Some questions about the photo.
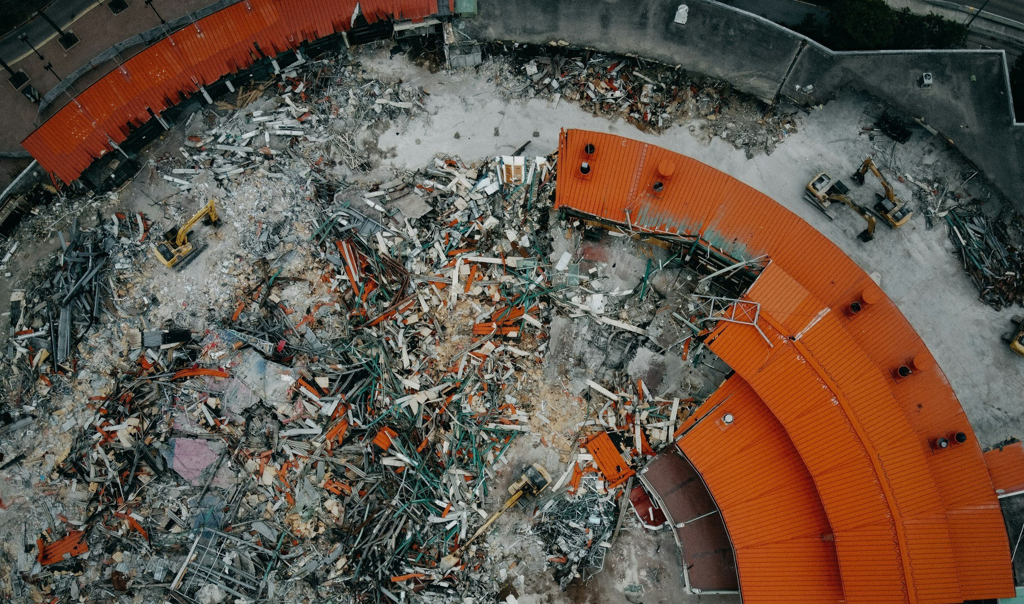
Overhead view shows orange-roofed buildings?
Yes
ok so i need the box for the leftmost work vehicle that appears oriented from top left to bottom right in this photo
[792,171,876,243]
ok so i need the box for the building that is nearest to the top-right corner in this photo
[774,35,1024,227]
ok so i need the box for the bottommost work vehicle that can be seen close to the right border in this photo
[1000,319,1024,358]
